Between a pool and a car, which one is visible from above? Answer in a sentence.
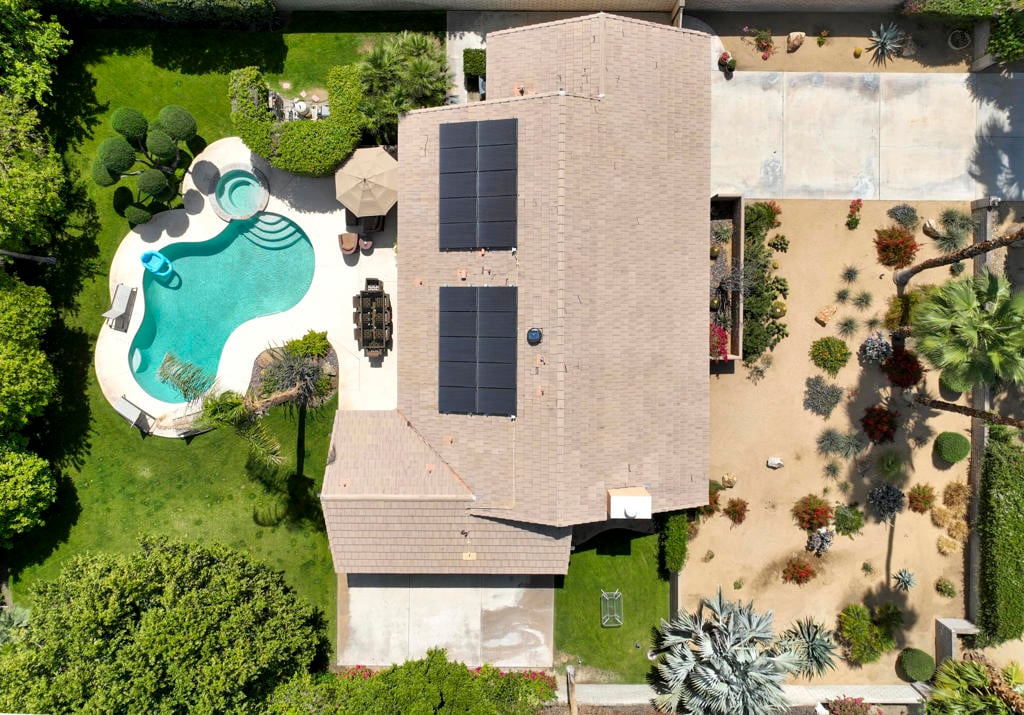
The image shows a pool.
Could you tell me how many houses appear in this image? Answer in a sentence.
The photo contains exactly 1 house.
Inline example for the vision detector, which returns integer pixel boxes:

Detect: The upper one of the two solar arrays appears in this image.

[437,116,516,254]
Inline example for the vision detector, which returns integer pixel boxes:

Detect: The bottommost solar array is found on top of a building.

[437,285,516,418]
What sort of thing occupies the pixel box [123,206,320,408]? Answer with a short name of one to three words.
swimming pool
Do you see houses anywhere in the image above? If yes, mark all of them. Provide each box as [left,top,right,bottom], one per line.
[320,12,713,574]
